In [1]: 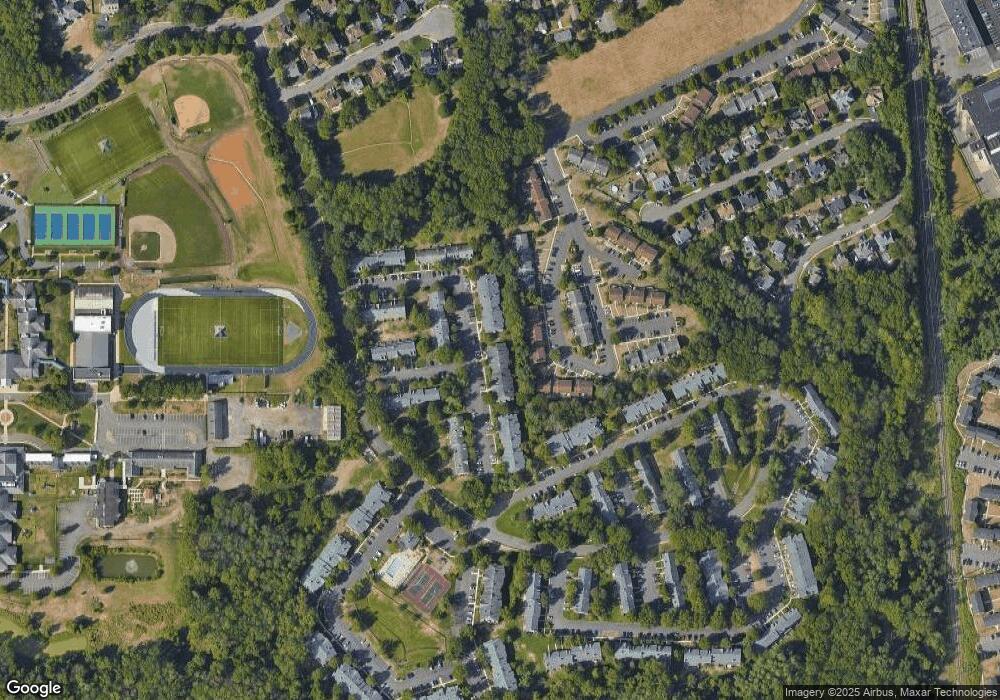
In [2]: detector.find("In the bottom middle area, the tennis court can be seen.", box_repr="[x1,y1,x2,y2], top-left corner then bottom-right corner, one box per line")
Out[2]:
[403,564,450,612]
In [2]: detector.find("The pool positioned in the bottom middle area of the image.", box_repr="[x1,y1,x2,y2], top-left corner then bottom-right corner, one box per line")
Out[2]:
[379,550,425,588]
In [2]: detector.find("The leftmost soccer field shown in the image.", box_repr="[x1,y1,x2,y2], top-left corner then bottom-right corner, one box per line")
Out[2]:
[41,94,165,195]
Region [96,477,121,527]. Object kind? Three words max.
building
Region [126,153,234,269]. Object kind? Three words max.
baseball field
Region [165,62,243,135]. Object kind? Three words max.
baseball field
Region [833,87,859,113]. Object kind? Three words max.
house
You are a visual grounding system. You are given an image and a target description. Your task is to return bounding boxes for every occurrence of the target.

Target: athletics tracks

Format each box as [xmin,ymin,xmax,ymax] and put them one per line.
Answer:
[121,288,318,374]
